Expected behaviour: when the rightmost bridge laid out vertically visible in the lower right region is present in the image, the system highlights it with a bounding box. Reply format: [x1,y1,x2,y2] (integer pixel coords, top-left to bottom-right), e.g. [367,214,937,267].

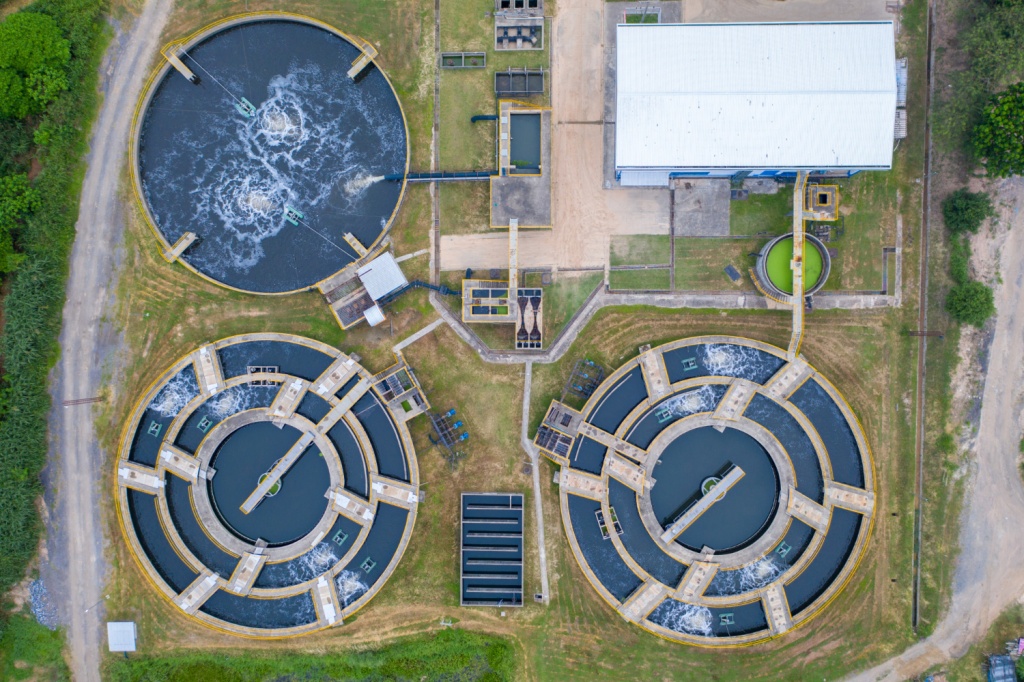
[761,585,794,638]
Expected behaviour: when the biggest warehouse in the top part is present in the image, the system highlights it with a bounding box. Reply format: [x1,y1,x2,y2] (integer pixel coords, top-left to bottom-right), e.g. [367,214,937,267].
[615,23,897,193]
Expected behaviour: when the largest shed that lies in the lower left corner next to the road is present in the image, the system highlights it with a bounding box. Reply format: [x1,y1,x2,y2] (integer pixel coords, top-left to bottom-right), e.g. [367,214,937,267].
[107,619,138,658]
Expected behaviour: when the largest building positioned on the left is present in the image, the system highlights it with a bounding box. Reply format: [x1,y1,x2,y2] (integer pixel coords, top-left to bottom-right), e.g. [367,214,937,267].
[314,240,409,328]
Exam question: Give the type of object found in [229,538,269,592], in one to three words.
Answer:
bridge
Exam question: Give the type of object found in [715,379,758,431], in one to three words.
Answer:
bridge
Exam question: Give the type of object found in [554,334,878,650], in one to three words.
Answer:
water tank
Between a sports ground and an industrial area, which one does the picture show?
industrial area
